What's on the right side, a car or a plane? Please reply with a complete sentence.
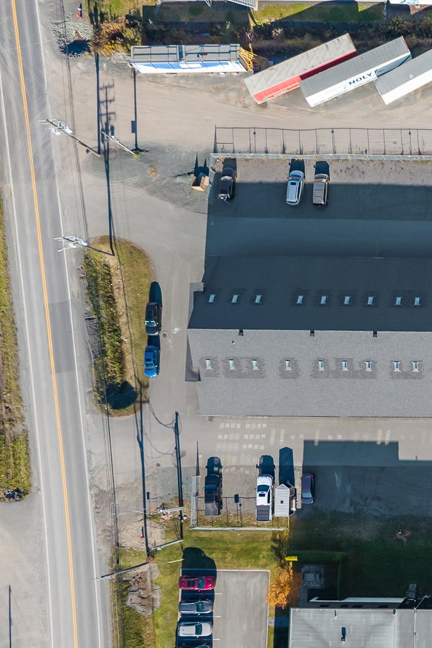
It is a car that can be seen on the right side.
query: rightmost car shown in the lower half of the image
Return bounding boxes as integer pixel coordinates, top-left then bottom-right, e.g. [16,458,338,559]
[301,472,316,504]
